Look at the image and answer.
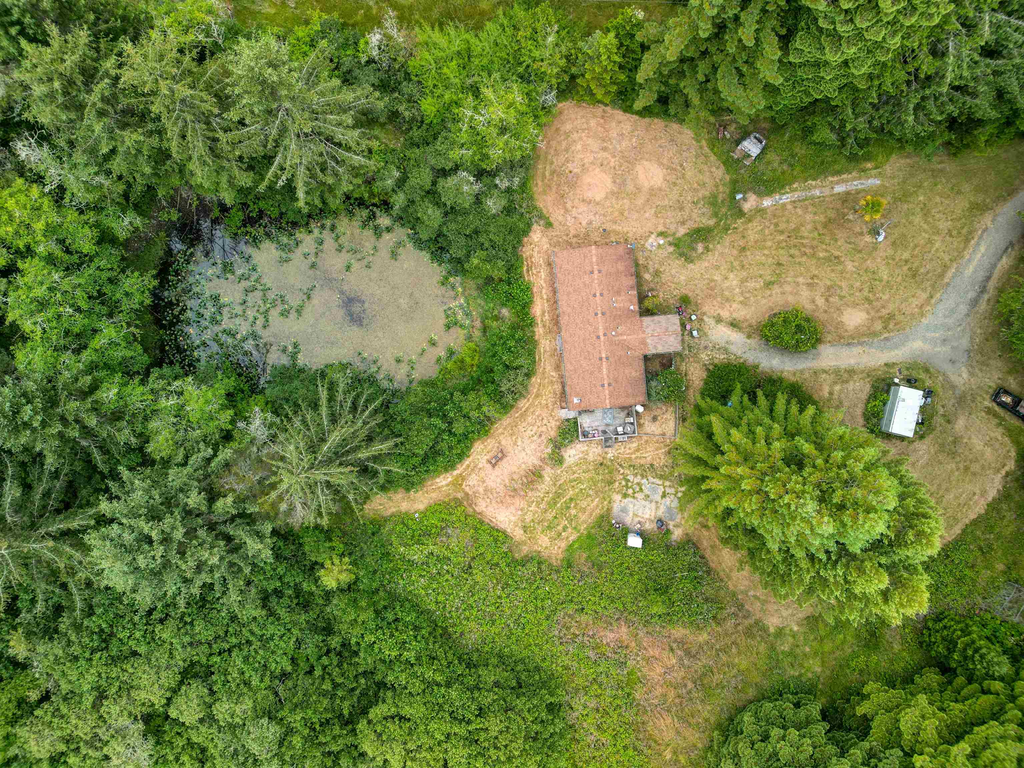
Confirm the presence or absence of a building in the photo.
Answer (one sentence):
Yes, a building can be made out from above.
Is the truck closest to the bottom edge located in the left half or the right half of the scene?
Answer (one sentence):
The truck closest to the bottom edge sits on the right side.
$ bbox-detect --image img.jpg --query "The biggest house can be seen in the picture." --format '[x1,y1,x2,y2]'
[552,243,681,413]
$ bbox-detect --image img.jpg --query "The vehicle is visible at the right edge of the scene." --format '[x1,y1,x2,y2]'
[990,387,1024,419]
